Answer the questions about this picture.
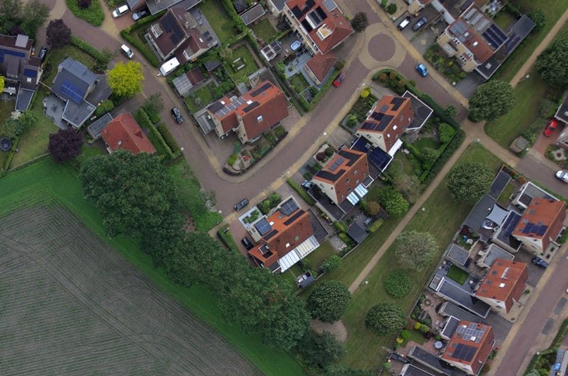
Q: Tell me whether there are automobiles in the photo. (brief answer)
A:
Yes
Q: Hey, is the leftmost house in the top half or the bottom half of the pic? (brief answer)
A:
top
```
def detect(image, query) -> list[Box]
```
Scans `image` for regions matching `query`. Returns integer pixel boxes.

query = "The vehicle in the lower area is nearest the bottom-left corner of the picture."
[240,234,253,252]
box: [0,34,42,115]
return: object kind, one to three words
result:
house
